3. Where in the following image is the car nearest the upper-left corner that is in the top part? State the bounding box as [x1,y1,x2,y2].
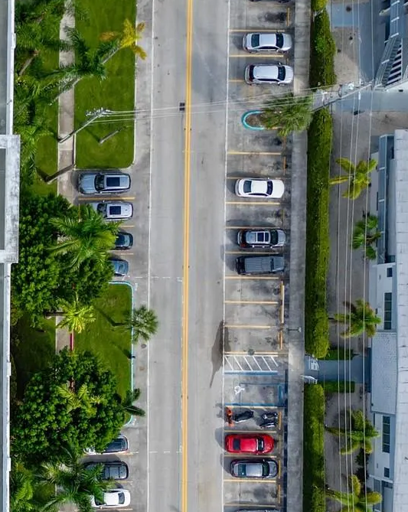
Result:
[79,171,132,194]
